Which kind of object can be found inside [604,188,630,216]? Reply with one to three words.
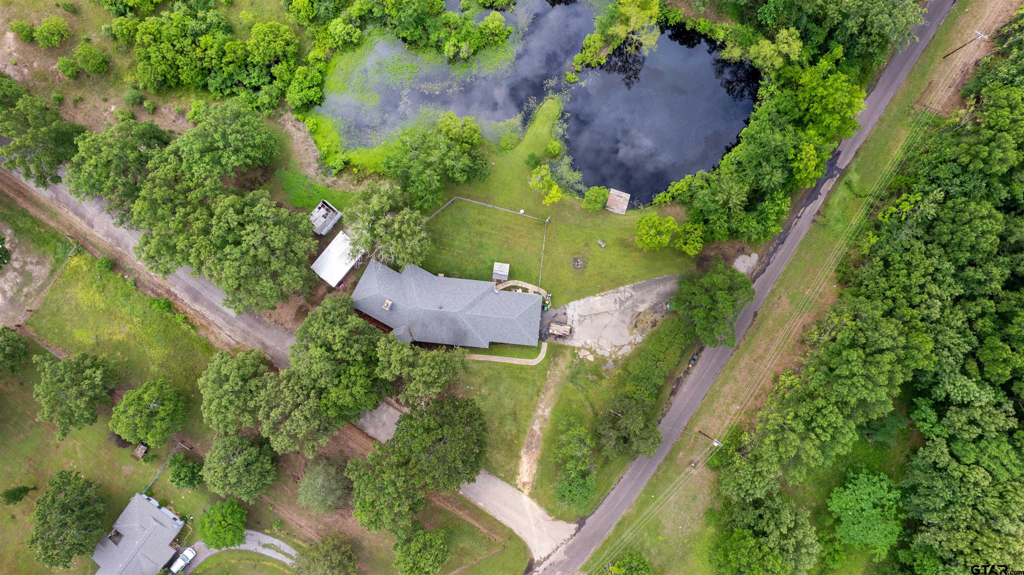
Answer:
pier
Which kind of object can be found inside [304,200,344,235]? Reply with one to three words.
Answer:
shed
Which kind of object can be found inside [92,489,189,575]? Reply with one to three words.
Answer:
house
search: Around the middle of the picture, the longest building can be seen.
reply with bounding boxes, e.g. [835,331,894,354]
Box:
[351,260,543,349]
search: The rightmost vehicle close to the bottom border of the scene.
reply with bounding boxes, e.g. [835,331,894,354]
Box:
[170,548,193,575]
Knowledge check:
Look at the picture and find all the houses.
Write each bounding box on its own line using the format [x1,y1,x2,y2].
[351,260,543,349]
[92,489,189,575]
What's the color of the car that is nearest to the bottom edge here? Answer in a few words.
white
